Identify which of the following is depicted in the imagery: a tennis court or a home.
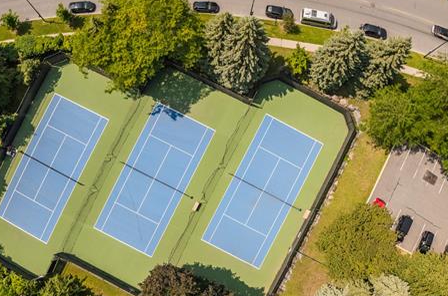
tennis court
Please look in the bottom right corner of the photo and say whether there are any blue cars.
No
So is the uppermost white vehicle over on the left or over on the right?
right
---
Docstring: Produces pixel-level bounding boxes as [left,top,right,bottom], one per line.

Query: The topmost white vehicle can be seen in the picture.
[297,6,335,29]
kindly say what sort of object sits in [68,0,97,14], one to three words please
car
